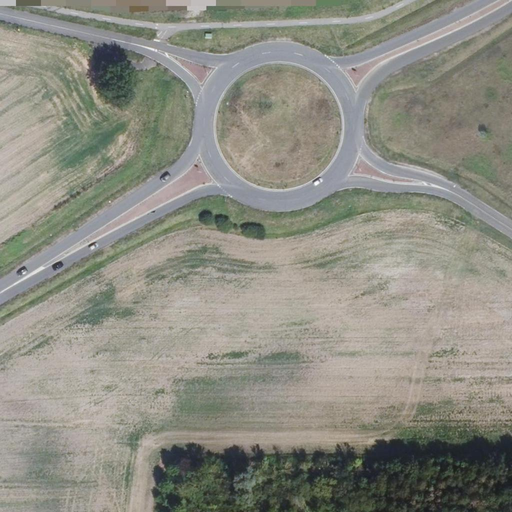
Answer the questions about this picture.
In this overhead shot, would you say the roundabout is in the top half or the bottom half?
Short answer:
top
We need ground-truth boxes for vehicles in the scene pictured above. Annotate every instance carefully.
[52,262,64,271]
[18,268,28,276]
[89,243,100,251]
[161,174,171,182]
[314,178,324,187]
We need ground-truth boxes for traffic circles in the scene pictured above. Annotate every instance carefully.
[76,0,512,249]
